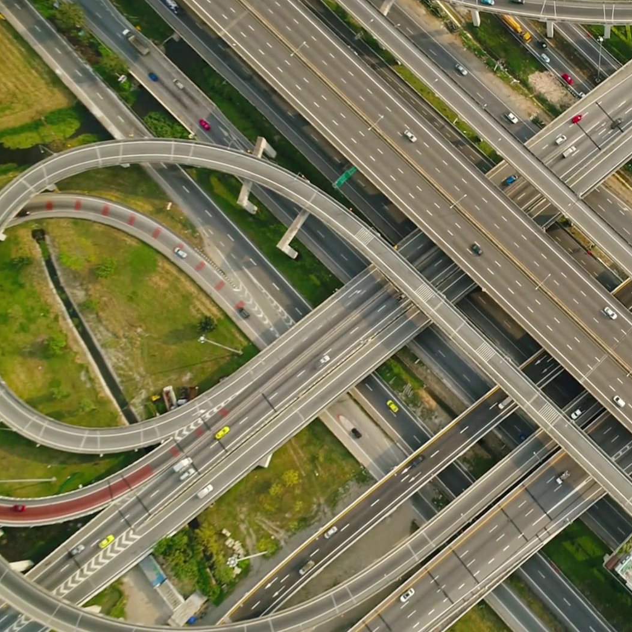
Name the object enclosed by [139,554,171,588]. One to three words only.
shed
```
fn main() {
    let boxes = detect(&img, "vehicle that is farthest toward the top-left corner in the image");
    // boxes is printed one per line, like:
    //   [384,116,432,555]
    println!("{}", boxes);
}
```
[124,29,146,52]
